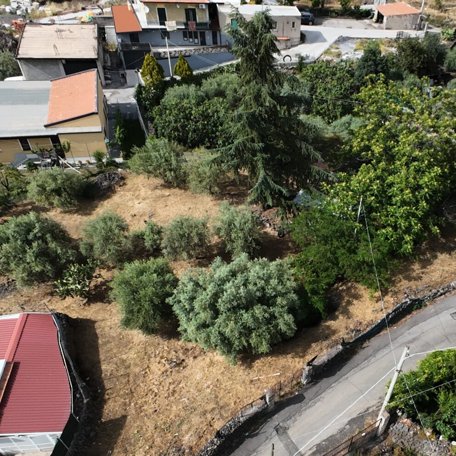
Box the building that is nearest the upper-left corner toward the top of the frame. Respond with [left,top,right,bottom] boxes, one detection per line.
[17,22,103,90]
